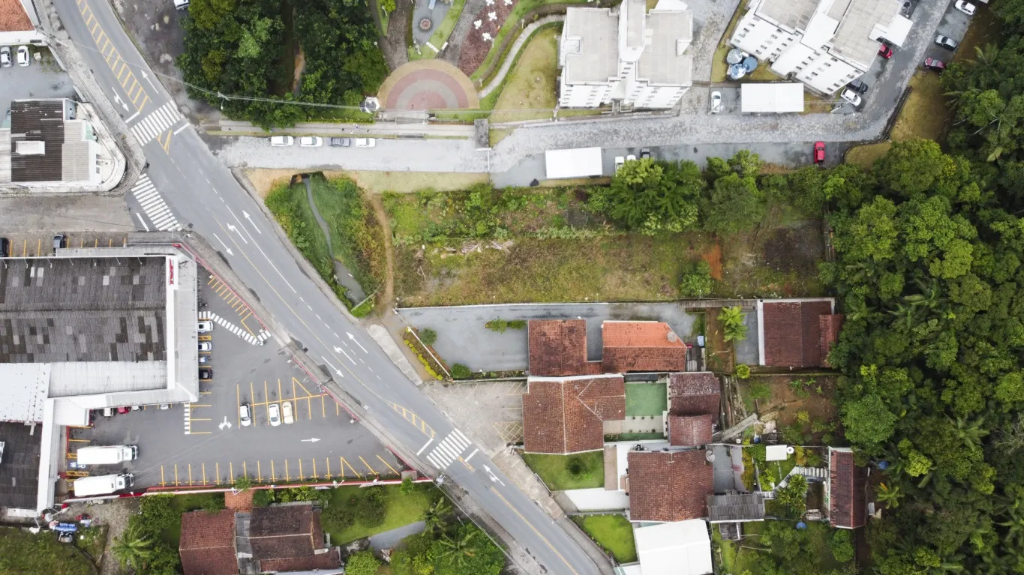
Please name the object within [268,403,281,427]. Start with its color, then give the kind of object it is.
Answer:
white vehicle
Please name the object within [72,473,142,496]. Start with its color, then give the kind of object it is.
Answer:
white truck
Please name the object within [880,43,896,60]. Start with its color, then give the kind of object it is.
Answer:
red car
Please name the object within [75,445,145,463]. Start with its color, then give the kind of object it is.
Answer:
white vehicle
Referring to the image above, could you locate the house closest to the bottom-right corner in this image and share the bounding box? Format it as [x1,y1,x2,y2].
[820,443,866,530]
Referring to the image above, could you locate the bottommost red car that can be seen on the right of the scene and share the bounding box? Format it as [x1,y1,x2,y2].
[813,142,825,163]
